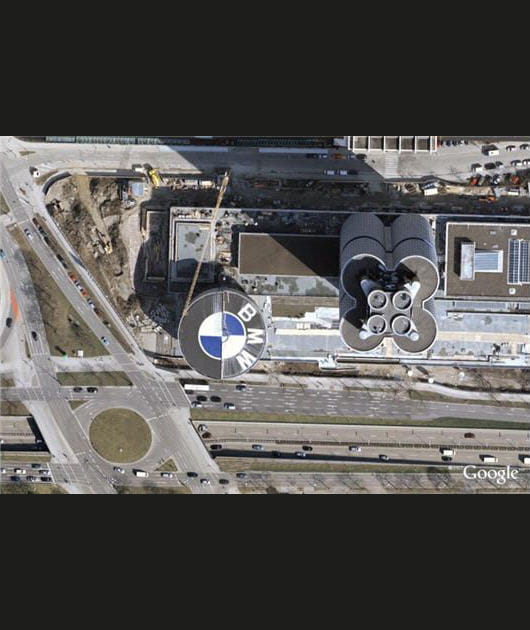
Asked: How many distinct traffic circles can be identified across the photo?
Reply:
1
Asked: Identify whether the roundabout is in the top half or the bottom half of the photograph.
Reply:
bottom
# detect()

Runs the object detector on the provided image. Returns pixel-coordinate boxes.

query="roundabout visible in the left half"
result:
[88,407,153,465]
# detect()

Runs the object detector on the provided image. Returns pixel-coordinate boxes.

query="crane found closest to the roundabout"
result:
[182,164,231,318]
